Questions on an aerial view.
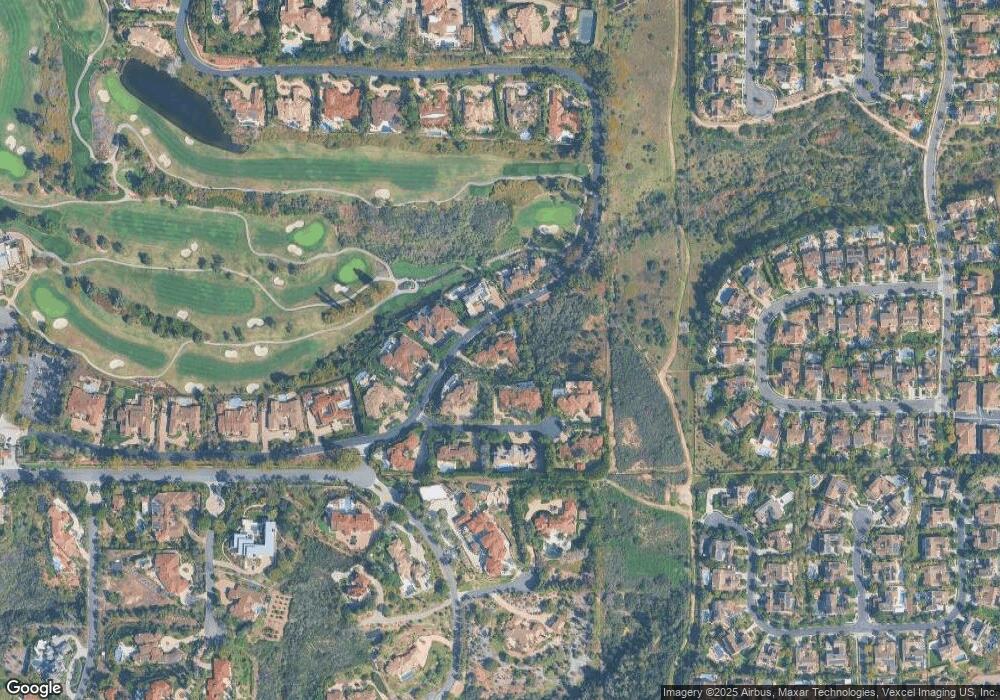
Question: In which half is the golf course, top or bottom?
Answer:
top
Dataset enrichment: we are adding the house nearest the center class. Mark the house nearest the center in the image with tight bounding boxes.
[472,333,520,369]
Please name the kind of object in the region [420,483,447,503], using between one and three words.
building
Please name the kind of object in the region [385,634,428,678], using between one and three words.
house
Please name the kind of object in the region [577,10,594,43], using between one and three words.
tennis court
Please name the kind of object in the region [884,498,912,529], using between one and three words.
house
